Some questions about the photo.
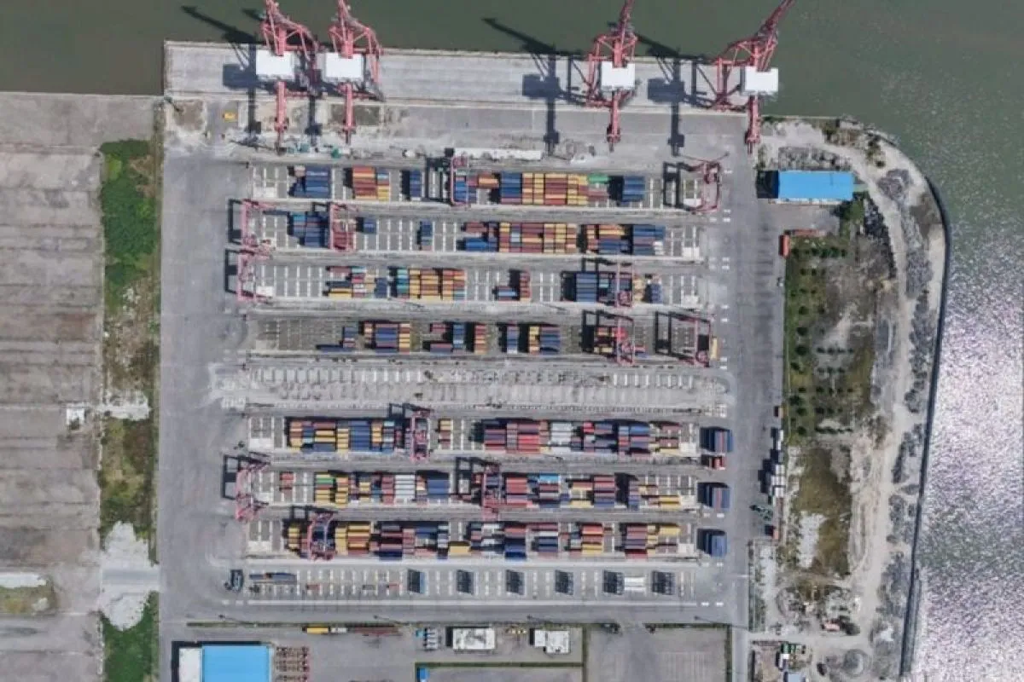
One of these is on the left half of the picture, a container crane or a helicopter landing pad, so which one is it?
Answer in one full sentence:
Visible on the left half of the picture is a container crane.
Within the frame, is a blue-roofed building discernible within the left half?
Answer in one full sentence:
Yes, you'll find a blue-roofed building within the left half.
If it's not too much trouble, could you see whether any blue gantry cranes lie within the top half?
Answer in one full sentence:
No, no blue gantry crane can be made out within the top half.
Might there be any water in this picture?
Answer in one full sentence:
Yes, the picture does contain water.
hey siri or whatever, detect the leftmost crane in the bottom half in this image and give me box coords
[234,459,268,516]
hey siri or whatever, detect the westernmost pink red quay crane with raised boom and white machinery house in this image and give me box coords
[256,0,323,151]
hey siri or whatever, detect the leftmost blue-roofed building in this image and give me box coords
[202,640,275,682]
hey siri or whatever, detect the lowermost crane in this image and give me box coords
[308,510,338,568]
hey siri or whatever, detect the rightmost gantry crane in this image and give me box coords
[709,0,795,165]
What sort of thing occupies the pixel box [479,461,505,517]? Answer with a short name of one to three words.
crane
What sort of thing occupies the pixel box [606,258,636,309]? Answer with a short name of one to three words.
crane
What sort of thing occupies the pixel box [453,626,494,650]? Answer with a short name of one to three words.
building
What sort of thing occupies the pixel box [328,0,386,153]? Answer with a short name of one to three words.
container crane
